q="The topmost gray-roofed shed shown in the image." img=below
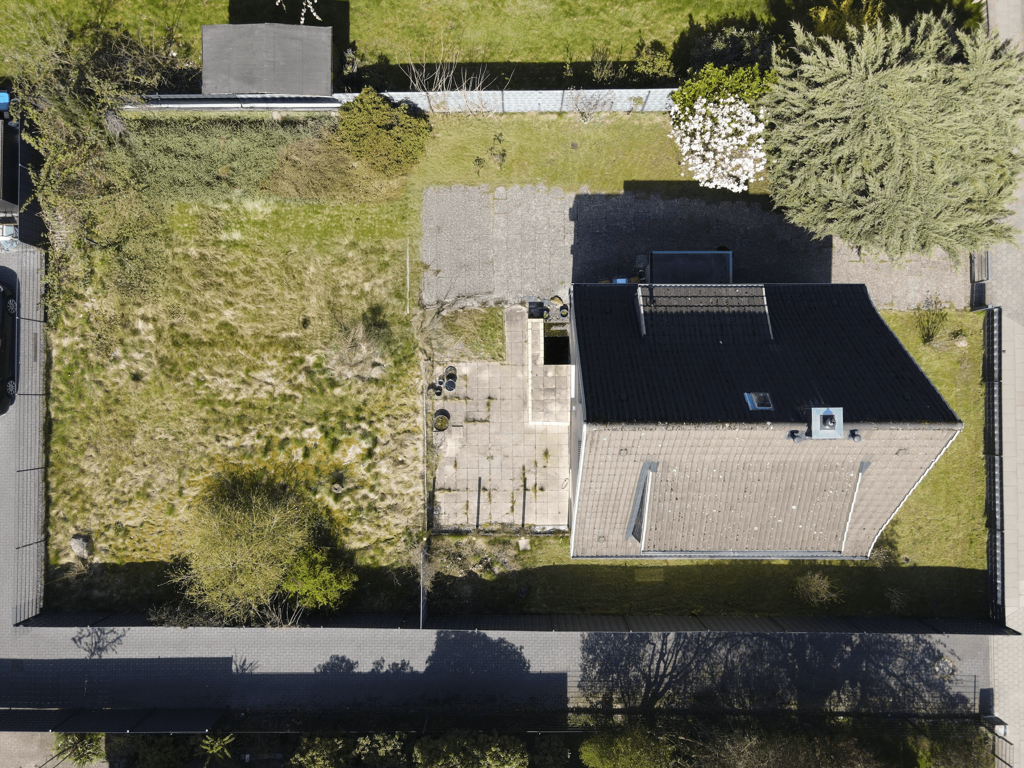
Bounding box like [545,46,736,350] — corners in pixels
[201,24,345,99]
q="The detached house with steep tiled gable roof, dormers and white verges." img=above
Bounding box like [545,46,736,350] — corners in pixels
[565,252,968,561]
